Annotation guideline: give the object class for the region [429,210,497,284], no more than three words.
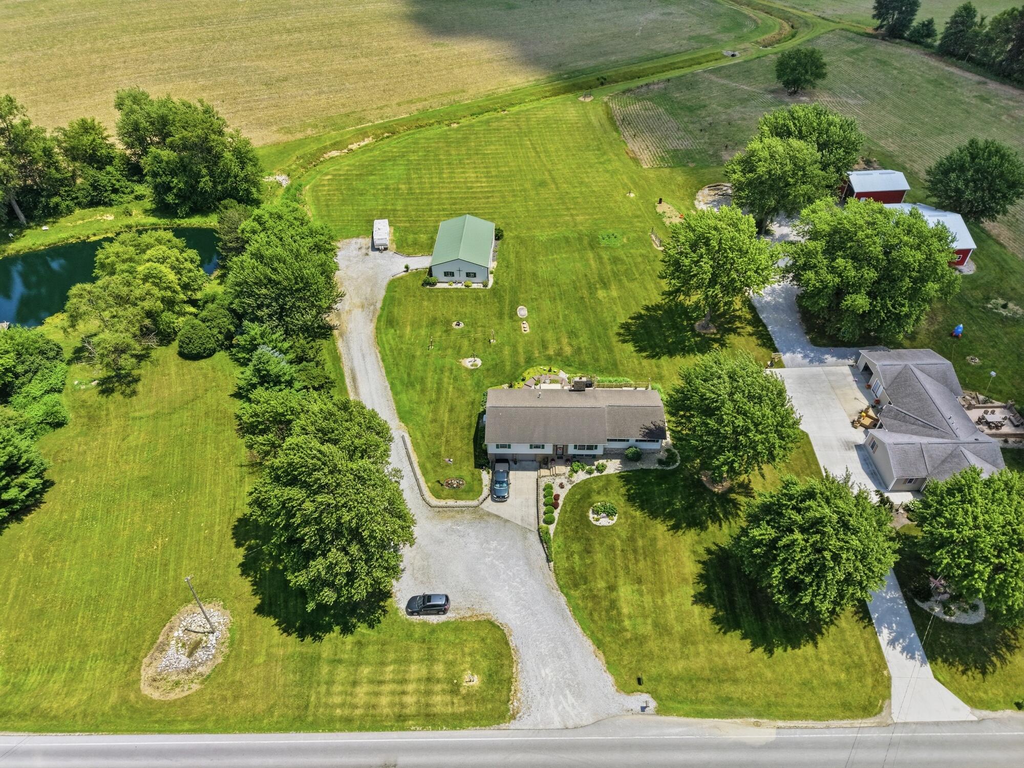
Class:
barn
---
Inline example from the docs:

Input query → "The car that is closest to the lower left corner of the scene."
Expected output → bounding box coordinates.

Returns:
[405,597,451,622]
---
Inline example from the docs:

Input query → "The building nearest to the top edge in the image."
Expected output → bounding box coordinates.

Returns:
[826,167,909,206]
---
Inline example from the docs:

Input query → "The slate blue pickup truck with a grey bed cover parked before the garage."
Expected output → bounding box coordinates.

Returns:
[490,458,511,499]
